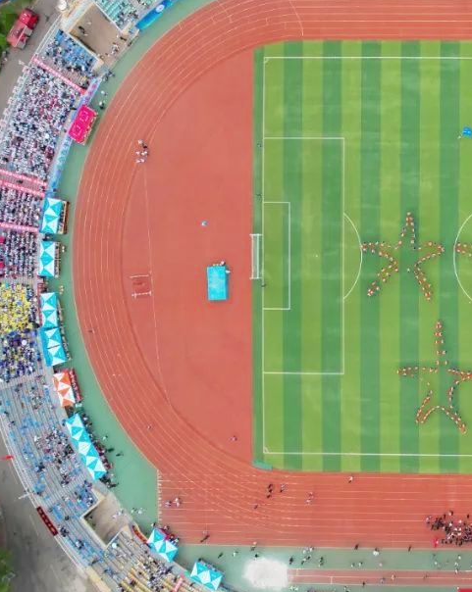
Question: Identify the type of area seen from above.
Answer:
sports ground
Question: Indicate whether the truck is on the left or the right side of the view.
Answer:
left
